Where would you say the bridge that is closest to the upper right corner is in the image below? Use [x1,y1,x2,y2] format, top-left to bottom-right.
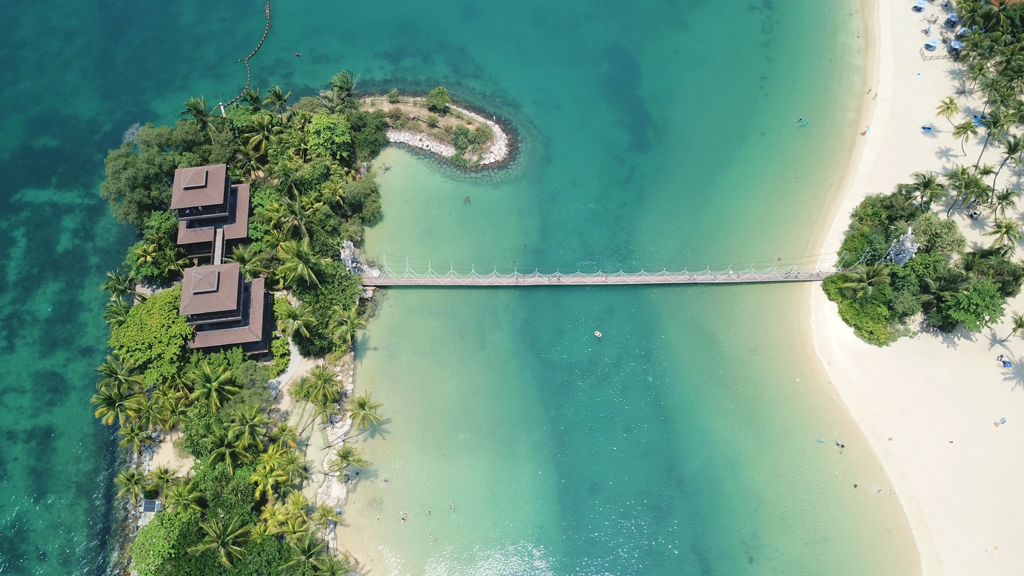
[344,243,906,287]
